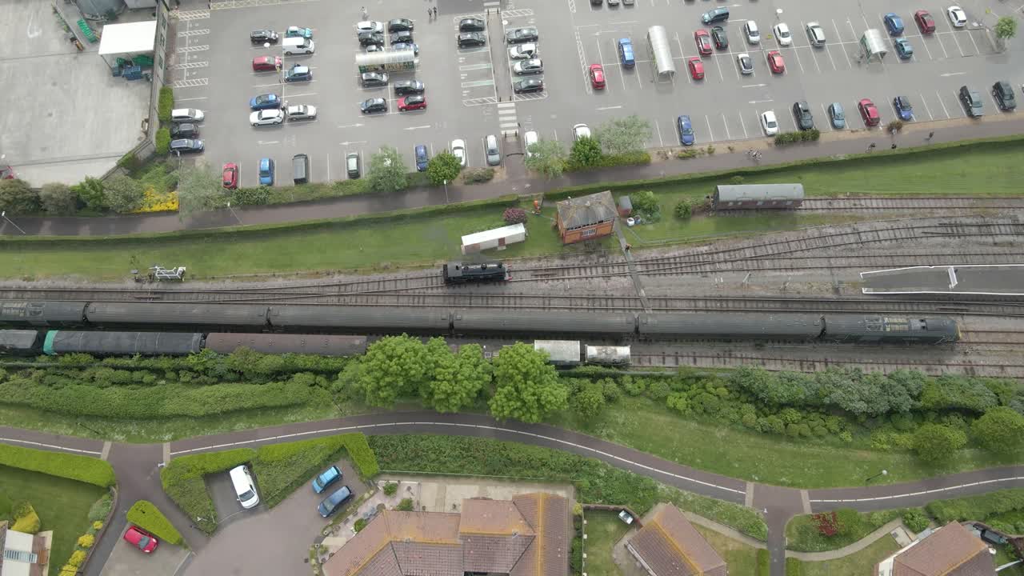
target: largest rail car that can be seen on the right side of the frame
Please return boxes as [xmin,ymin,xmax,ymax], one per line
[814,315,959,345]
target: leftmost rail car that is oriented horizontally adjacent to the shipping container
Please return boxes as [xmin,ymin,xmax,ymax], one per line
[438,258,511,287]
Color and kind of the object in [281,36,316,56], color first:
white vehicle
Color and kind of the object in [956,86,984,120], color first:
gray truck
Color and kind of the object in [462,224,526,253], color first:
white shipping container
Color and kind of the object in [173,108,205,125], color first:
white car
